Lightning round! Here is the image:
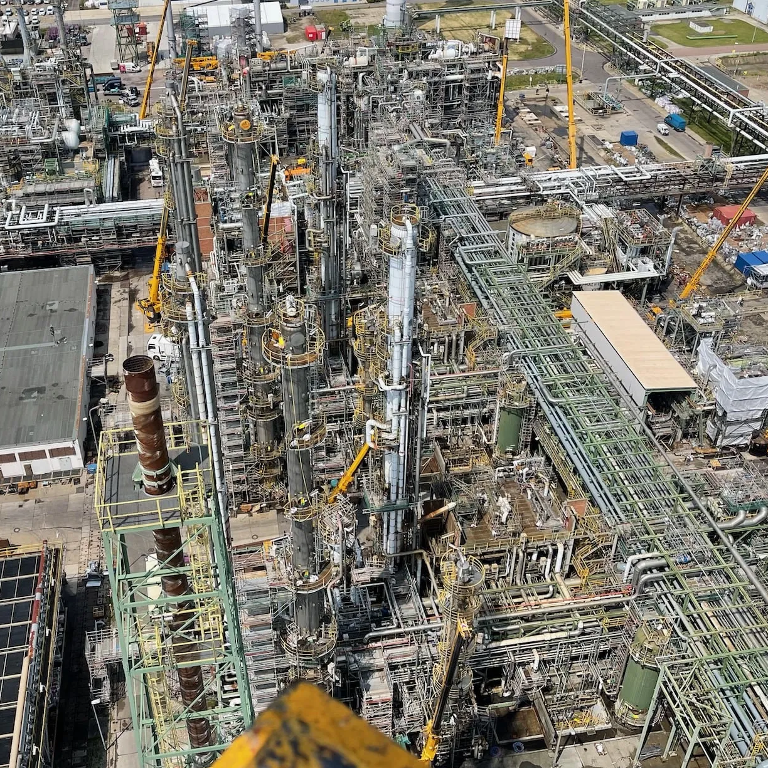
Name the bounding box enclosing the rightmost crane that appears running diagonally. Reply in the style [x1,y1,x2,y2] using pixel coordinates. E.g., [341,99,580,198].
[657,165,768,303]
